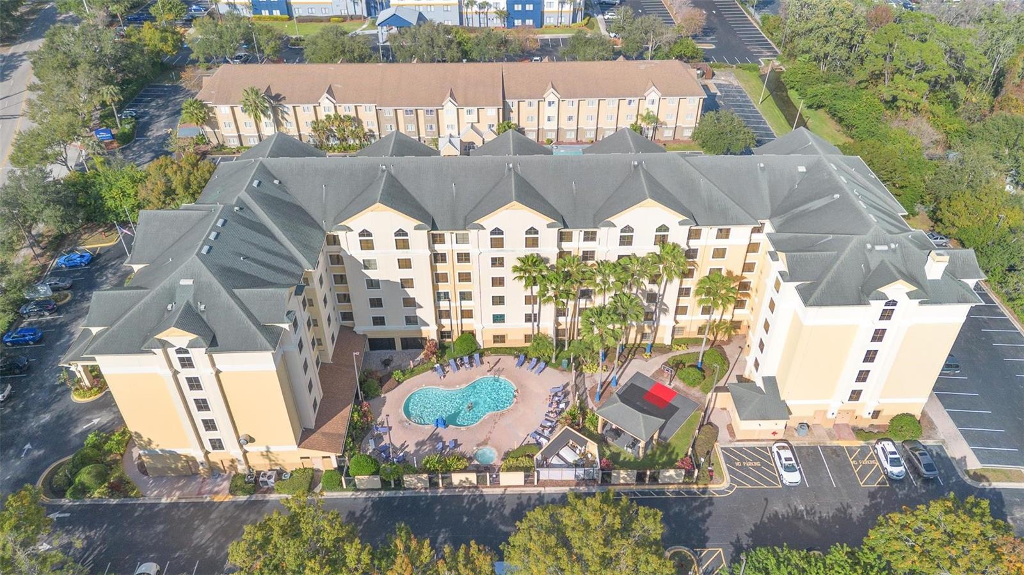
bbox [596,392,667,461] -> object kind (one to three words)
building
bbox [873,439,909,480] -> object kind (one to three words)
car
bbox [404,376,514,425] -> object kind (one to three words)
swimming pool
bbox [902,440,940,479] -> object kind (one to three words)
car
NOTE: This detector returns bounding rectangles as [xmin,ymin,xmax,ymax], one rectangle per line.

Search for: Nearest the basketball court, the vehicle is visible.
[770,443,802,484]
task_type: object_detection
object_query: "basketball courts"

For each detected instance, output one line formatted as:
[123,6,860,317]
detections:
[606,371,697,447]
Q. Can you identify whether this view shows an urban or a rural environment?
urban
